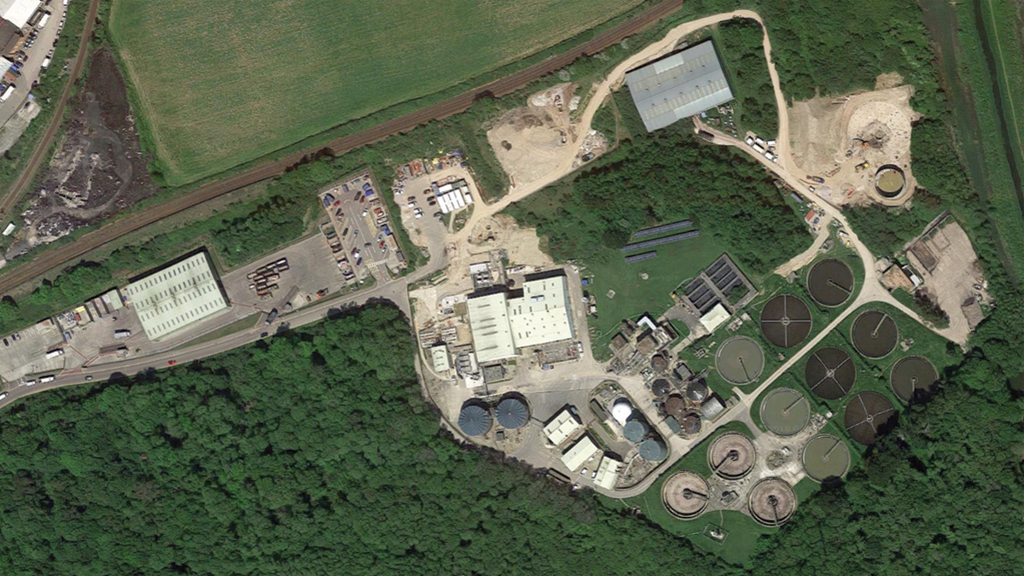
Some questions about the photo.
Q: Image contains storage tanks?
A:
Yes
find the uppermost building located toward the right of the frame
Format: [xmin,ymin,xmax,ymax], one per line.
[626,40,735,132]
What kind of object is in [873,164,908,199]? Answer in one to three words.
storage tank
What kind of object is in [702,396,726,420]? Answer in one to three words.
house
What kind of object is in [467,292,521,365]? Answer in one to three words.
building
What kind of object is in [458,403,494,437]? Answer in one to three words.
storage tank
